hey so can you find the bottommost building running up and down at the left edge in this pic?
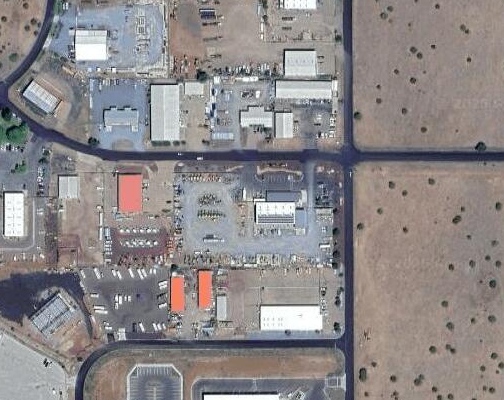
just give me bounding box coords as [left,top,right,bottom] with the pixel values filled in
[4,192,23,236]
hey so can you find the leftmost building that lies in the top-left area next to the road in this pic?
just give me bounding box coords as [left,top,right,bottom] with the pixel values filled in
[22,79,61,114]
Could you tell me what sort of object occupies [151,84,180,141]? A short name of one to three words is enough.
building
